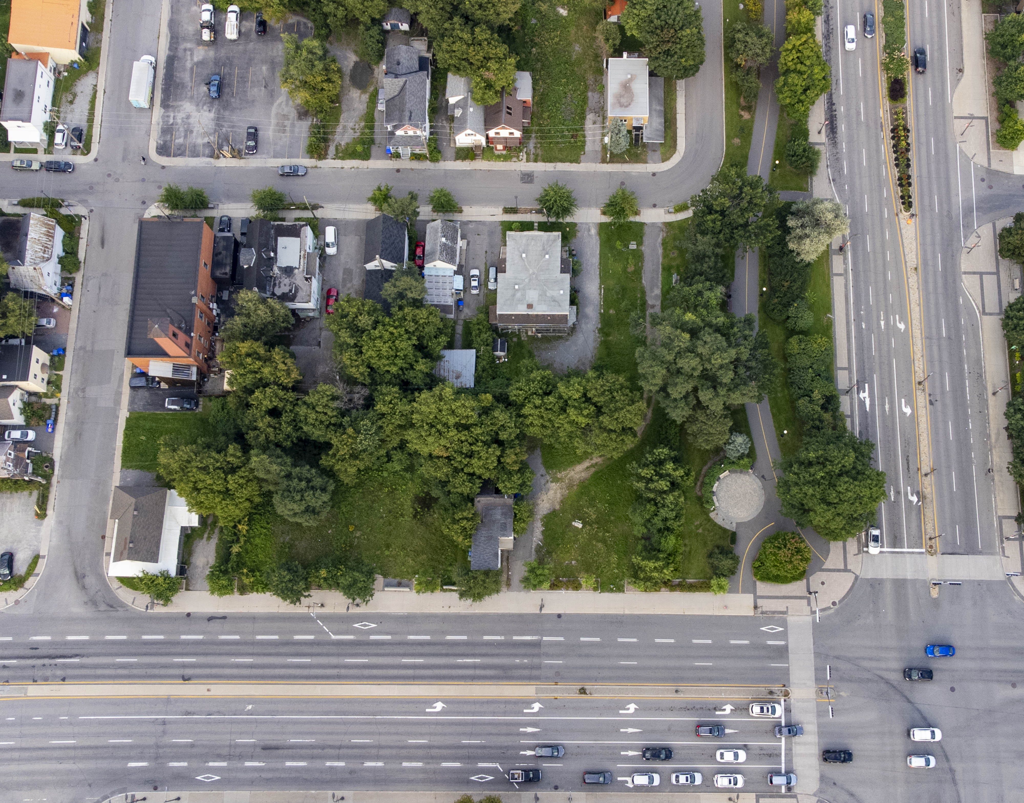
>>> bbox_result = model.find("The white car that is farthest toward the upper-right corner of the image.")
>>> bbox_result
[844,25,858,51]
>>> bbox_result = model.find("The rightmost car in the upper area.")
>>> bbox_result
[913,48,928,74]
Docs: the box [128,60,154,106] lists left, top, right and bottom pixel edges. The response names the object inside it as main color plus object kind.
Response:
white truck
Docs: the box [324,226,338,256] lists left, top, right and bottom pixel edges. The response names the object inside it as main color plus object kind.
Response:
white vehicle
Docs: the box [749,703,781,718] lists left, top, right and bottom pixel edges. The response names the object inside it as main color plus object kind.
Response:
white car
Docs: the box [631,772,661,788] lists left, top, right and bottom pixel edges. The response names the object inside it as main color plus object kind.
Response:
white car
